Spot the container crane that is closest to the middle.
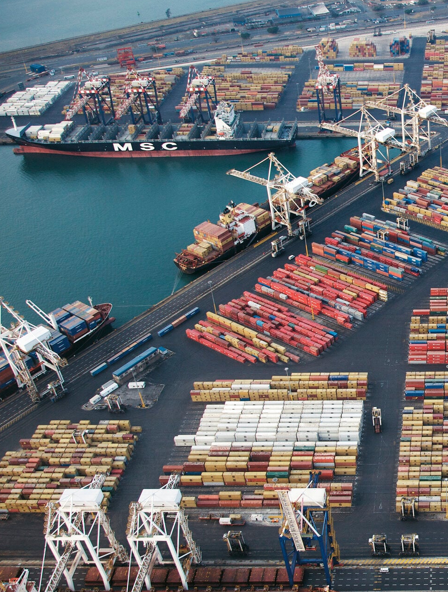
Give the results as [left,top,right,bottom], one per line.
[233,157,327,237]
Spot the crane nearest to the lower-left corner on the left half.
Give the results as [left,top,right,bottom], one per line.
[33,471,125,592]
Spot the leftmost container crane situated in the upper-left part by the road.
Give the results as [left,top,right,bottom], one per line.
[64,67,122,130]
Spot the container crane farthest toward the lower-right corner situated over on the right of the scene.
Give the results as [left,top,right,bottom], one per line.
[272,470,339,587]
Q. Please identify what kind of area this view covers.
port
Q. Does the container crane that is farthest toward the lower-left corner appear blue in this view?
No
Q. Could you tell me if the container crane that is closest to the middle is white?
Yes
